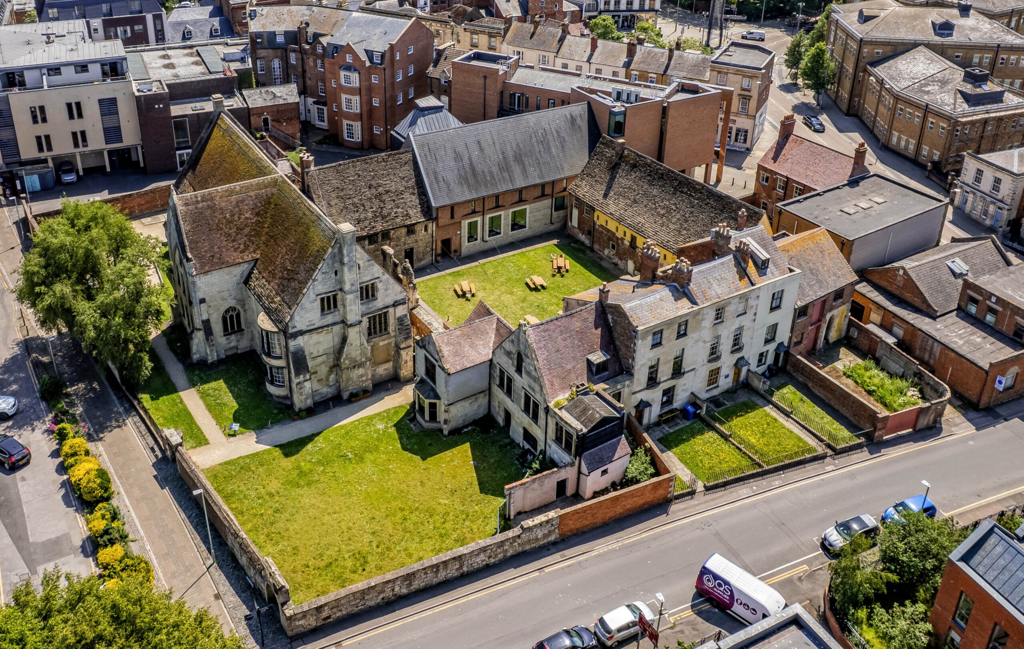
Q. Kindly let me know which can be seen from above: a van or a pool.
van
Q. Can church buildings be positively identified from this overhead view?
Yes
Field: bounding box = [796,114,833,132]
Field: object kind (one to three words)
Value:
car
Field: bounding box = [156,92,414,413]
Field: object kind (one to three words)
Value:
church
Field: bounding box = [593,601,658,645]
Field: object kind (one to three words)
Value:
car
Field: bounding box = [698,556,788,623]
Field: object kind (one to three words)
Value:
van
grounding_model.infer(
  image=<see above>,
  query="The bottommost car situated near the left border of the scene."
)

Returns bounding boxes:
[0,432,30,468]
